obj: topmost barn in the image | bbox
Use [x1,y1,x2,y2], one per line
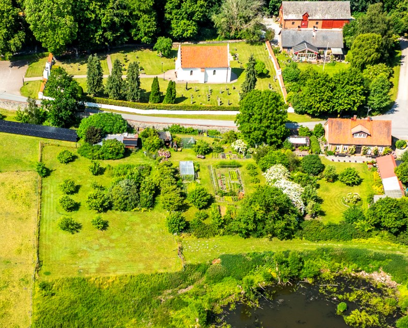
[279,1,352,29]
